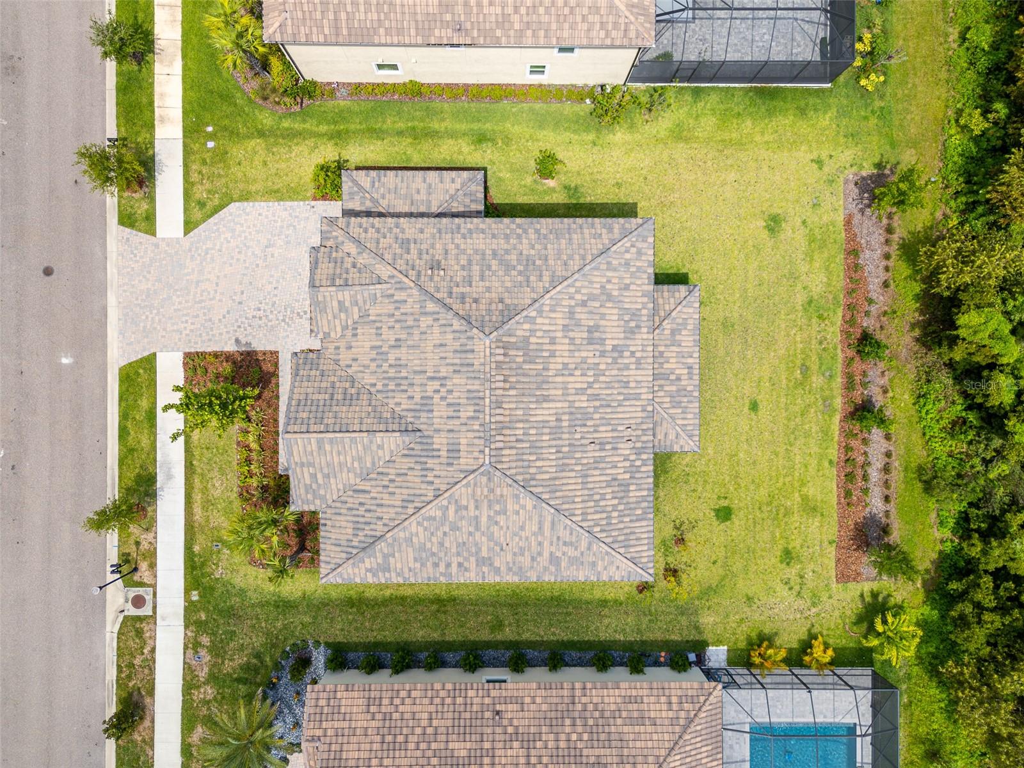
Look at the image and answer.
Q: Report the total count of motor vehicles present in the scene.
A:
zero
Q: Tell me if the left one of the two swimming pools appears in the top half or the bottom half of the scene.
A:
top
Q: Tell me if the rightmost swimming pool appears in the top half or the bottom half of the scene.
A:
bottom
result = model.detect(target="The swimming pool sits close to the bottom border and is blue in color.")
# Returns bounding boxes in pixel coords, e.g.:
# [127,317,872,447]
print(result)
[745,719,862,768]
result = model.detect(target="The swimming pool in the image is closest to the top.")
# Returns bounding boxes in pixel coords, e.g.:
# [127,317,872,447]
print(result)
[656,0,698,23]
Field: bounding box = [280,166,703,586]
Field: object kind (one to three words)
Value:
house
